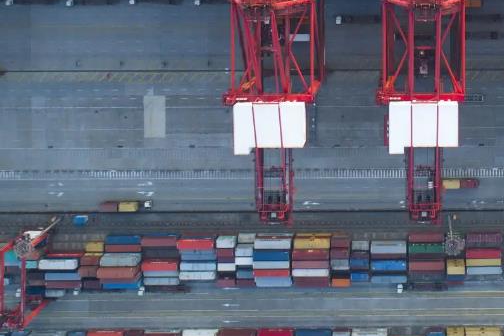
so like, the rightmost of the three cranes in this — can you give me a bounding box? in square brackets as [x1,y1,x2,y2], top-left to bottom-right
[378,0,469,232]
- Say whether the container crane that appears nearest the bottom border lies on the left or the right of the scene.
left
